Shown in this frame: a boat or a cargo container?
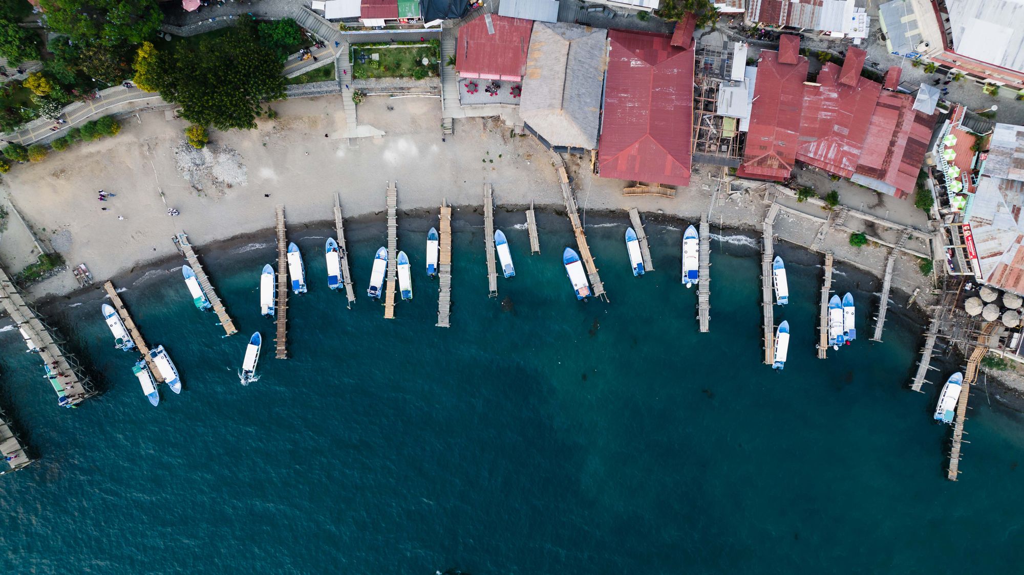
boat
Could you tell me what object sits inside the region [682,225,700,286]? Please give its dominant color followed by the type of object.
white boat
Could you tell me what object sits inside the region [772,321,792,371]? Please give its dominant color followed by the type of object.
white boat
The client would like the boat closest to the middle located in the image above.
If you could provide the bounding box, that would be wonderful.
[496,230,516,280]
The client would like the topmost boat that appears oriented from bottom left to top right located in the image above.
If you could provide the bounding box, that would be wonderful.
[906,289,921,308]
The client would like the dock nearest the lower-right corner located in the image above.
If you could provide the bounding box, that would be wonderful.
[943,365,981,481]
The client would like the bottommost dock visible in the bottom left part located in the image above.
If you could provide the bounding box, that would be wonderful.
[0,384,47,472]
